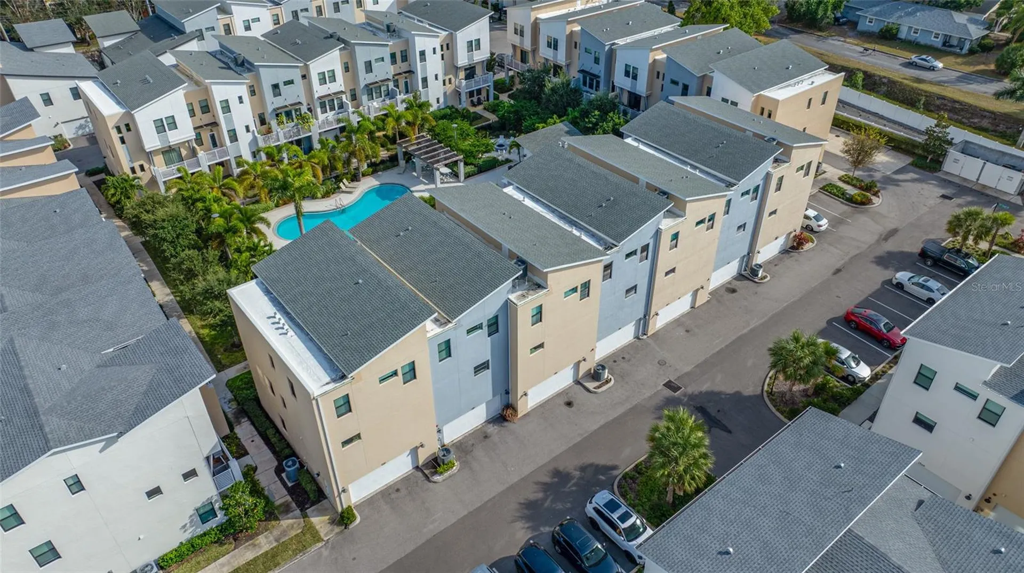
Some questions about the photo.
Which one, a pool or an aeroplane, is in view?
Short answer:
pool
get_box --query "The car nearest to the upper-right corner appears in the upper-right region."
[908,56,943,70]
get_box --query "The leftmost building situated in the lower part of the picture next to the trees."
[0,182,245,573]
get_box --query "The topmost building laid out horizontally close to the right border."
[823,0,1004,56]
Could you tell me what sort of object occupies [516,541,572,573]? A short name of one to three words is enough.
car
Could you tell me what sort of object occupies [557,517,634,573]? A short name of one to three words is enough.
car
